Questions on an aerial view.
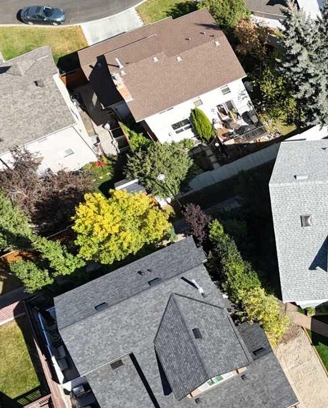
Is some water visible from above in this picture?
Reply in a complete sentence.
No, the scene doesn't show any water.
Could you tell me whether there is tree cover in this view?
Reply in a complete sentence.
Yes, tree cover shows up in the scene.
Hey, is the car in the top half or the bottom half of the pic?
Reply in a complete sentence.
The top half of the photo is where the car is.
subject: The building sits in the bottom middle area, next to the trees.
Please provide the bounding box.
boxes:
[53,235,299,408]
